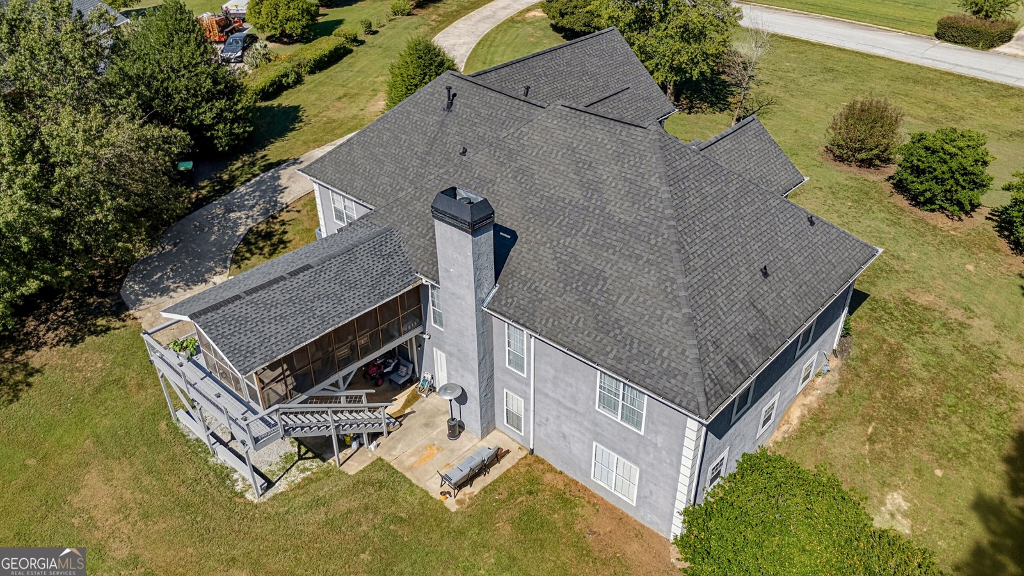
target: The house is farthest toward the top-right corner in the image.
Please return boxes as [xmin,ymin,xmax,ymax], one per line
[294,29,885,545]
